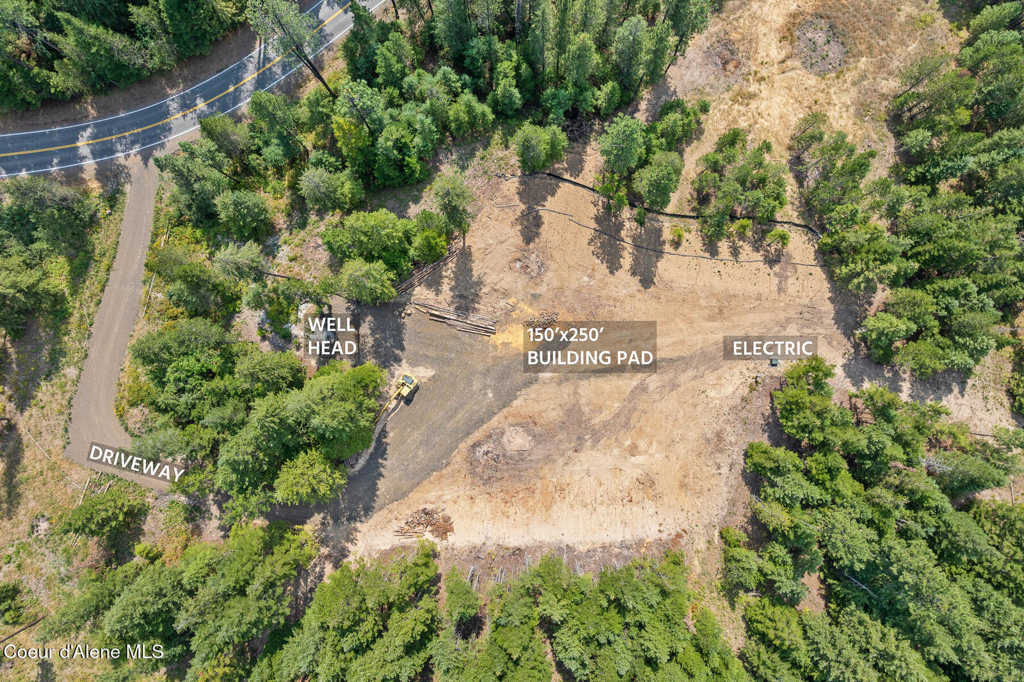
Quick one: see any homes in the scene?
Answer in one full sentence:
No, no home can be seen from above.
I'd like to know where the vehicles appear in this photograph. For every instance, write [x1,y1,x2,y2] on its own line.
[375,373,421,427]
